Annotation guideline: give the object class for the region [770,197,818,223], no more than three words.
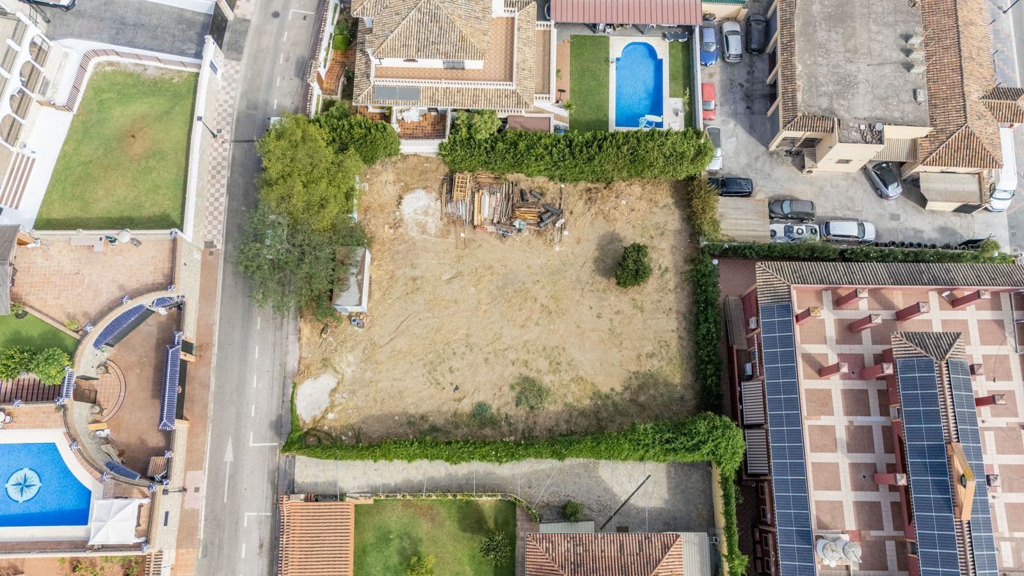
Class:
car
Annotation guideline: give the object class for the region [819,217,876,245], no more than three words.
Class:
car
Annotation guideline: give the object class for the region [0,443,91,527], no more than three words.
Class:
swimming pool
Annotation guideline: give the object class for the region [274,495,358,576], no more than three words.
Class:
building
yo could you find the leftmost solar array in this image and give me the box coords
[760,303,814,576]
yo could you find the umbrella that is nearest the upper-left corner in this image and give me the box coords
[119,232,137,247]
